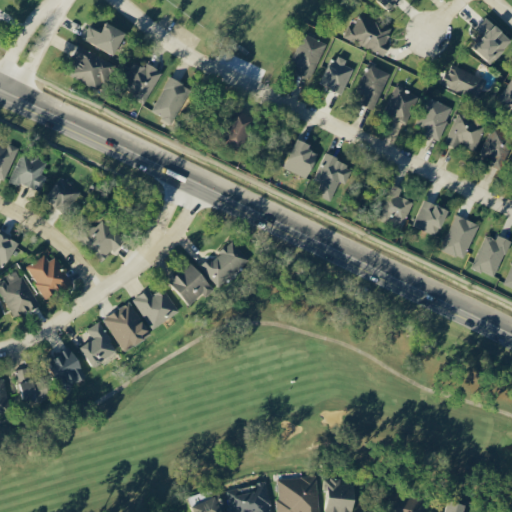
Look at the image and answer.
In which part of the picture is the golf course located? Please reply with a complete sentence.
You can find the golf course in the bottom area of the picture.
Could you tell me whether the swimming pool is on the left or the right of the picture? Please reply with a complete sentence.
You can find the swimming pool on the right side of the picture.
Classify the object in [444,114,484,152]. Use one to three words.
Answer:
house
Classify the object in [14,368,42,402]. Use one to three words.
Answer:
house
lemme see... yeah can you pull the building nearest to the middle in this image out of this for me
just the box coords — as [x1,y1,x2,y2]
[206,243,250,288]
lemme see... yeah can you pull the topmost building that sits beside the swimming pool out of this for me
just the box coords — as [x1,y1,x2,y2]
[470,17,512,64]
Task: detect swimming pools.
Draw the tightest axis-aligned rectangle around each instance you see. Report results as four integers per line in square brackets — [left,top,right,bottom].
[474,66,494,90]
